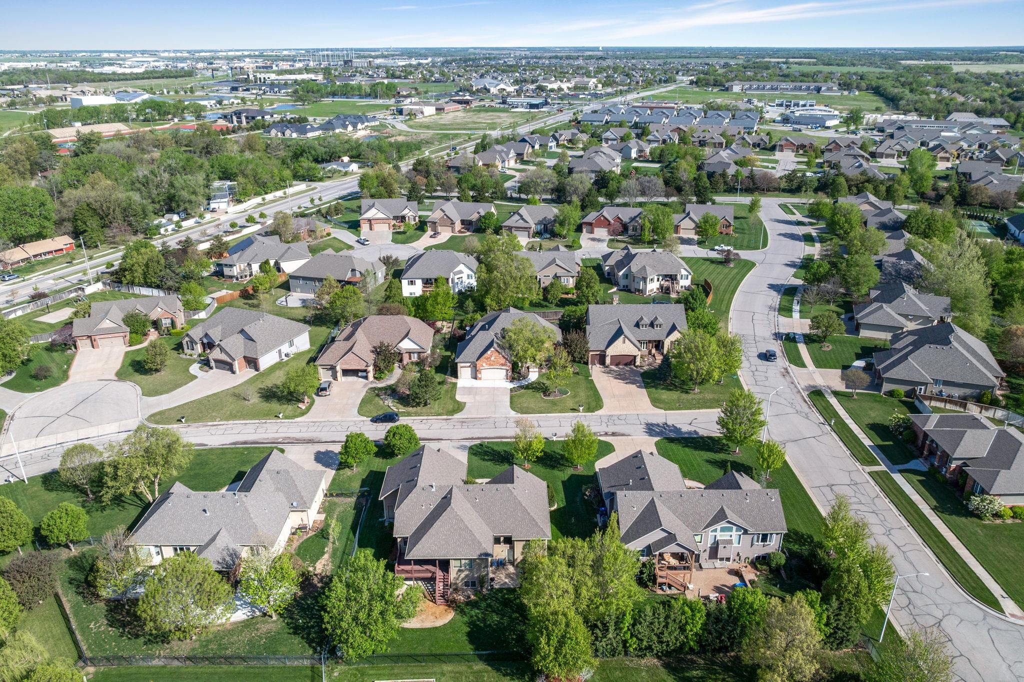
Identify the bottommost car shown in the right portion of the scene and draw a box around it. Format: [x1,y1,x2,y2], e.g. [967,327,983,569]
[763,349,781,361]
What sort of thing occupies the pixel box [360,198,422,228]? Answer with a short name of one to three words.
house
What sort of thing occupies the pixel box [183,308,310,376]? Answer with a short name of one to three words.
house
